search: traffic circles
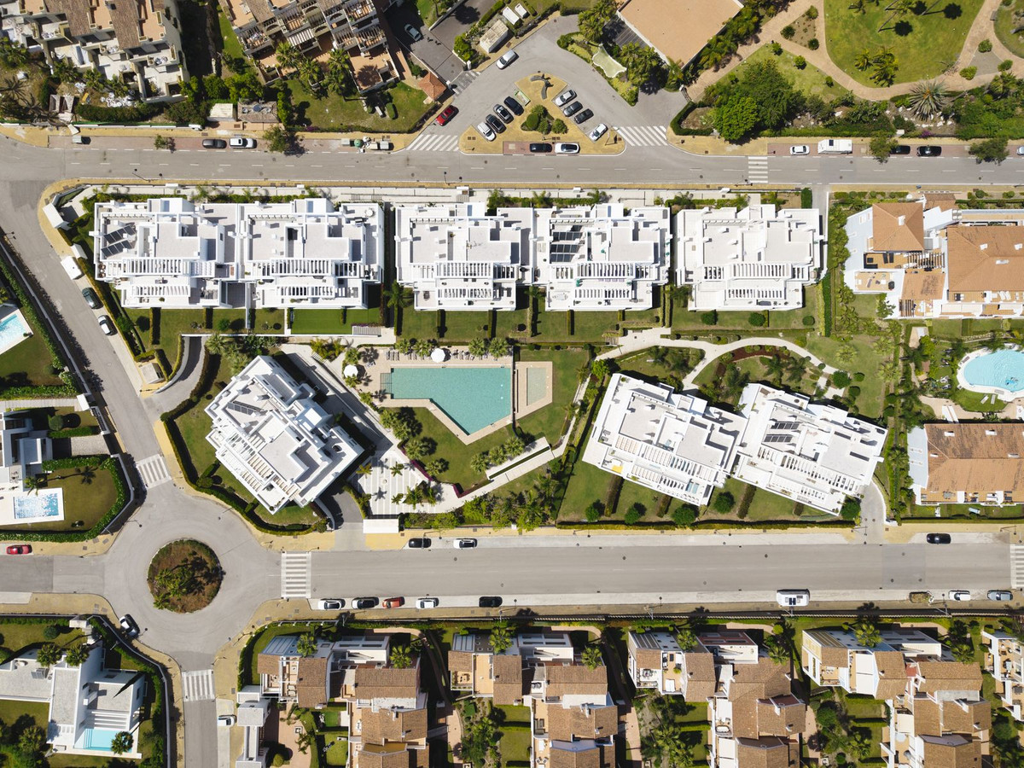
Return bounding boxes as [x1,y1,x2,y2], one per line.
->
[104,492,271,669]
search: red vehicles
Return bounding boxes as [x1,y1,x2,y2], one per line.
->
[382,596,404,608]
[435,104,458,127]
[8,544,31,555]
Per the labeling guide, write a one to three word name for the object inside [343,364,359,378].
umbrella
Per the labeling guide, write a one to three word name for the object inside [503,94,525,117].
car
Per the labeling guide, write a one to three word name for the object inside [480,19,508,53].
shed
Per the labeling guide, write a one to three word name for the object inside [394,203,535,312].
building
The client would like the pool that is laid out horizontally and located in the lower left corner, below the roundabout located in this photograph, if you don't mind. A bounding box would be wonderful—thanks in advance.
[47,726,141,759]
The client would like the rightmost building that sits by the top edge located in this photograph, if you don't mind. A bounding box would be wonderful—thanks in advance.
[610,0,743,72]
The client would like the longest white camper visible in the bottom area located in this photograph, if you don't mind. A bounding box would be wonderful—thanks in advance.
[774,589,811,607]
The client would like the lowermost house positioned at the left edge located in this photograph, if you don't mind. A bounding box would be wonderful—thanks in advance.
[0,634,147,753]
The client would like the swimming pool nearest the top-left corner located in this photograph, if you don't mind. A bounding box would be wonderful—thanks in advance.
[0,314,33,354]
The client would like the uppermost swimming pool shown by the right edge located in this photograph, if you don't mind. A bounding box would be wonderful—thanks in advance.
[958,343,1024,399]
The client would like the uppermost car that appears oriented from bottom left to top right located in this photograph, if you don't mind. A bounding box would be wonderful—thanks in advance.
[495,49,518,71]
